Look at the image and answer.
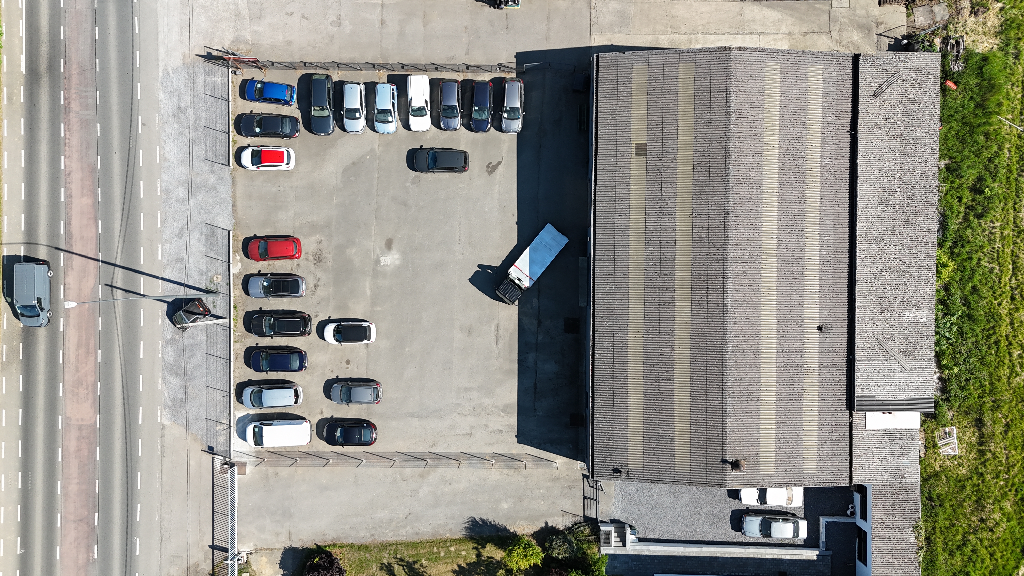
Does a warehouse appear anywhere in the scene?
Yes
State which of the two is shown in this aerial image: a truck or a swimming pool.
truck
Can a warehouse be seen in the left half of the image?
No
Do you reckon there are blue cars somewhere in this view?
Yes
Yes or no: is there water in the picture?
No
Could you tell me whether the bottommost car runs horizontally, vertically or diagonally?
horizontally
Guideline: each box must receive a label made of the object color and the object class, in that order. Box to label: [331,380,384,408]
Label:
gray car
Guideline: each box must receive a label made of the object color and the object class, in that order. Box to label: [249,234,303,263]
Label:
red car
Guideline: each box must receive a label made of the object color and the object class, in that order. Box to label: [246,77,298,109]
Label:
blue car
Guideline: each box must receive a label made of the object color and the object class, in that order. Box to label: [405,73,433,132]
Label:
white van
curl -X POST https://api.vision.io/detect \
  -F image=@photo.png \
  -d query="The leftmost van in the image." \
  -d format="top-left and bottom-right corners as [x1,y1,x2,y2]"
[16,262,57,327]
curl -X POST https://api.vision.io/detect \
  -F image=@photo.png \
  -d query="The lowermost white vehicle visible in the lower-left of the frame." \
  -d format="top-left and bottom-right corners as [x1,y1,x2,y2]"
[246,420,313,450]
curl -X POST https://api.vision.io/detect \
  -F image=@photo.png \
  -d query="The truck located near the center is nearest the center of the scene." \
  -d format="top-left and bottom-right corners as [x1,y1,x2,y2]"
[494,223,568,306]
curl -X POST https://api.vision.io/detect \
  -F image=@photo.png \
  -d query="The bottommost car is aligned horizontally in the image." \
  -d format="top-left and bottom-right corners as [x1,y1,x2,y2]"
[739,512,806,542]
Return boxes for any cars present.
[324,319,376,348]
[176,298,214,333]
[246,77,298,109]
[242,110,302,140]
[249,234,303,263]
[338,82,367,135]
[249,271,307,302]
[436,80,463,132]
[242,143,297,172]
[331,380,384,408]
[736,488,803,511]
[325,420,377,449]
[307,75,337,137]
[468,81,495,134]
[415,146,469,175]
[243,382,304,411]
[498,79,526,135]
[252,311,312,341]
[371,84,398,135]
[252,347,309,375]
[739,512,806,542]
